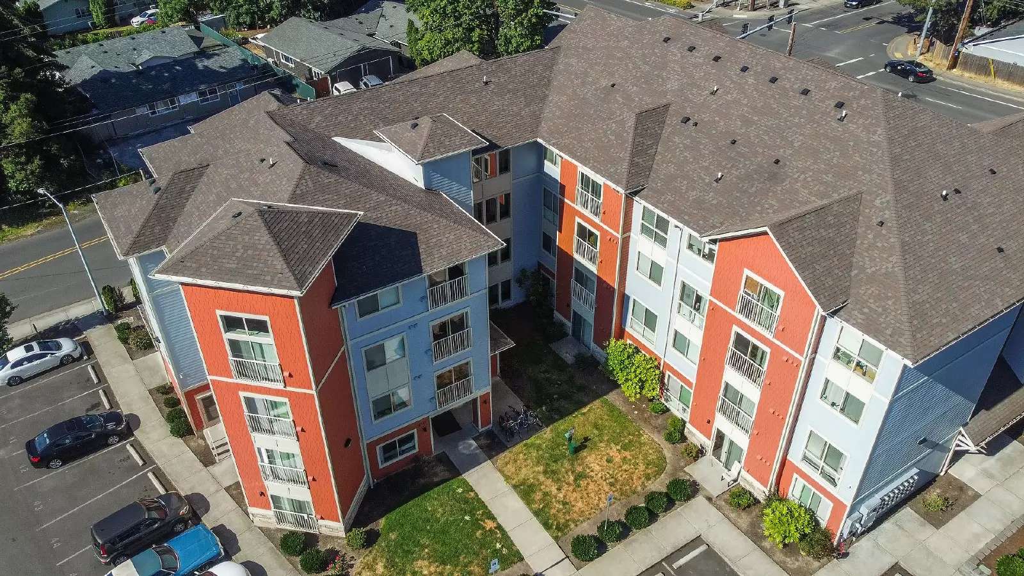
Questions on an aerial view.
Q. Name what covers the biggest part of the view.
buildings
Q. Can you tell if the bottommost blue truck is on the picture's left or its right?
left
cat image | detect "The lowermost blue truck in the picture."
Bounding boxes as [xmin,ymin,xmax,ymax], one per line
[111,529,225,576]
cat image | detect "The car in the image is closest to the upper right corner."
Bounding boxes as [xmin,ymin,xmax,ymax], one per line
[888,61,927,78]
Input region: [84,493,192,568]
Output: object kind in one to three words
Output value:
car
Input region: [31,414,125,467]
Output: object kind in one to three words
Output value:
car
